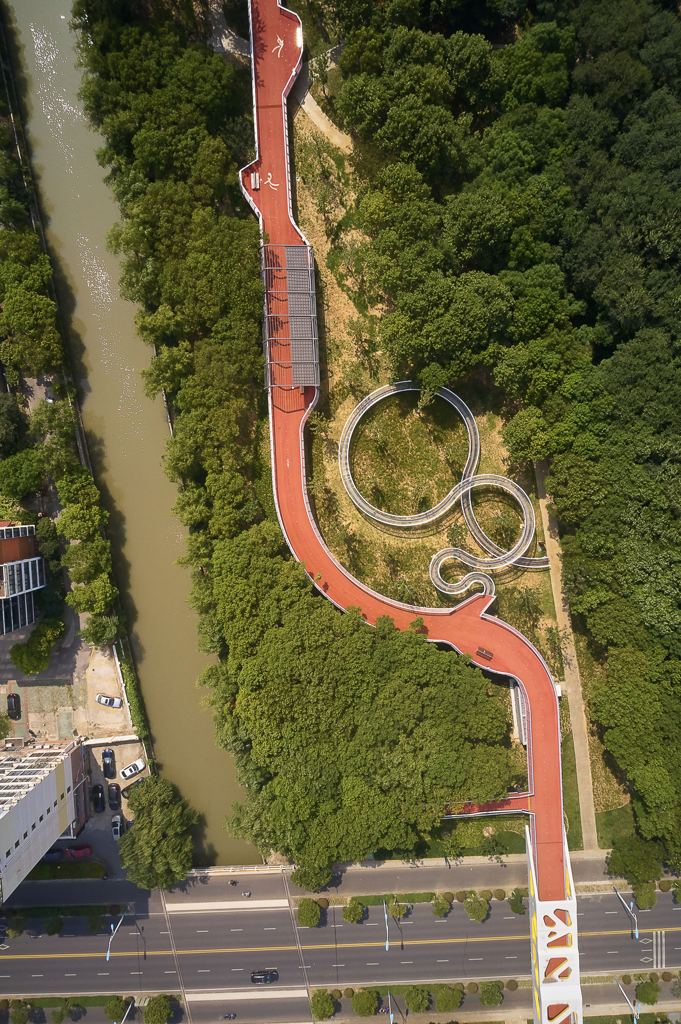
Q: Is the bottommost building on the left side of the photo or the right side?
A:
left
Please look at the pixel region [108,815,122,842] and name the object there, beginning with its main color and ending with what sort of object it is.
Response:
gray car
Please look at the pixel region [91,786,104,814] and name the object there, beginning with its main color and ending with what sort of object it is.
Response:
black vehicle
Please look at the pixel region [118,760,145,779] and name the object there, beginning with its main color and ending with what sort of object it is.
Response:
white car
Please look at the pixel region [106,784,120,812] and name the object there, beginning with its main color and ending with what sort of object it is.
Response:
black car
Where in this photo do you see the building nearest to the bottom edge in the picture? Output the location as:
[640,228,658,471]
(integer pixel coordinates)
[0,734,91,902]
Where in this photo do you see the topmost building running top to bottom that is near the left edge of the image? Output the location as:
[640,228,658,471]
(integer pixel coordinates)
[0,524,46,637]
